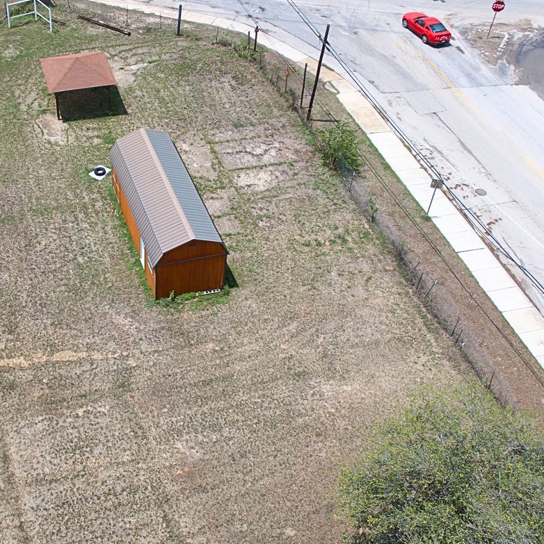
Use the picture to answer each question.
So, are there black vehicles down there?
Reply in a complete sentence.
No, I can't see a single black vehicle in this photo.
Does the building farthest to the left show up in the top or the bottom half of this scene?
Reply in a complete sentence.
The building farthest to the left sits in the top half of the picture.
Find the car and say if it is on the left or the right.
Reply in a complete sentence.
The car appears in the right half of the scene.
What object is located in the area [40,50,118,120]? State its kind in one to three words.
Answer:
building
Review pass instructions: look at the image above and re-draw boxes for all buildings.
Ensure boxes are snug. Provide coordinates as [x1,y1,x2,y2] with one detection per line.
[40,50,118,120]
[111,125,232,298]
